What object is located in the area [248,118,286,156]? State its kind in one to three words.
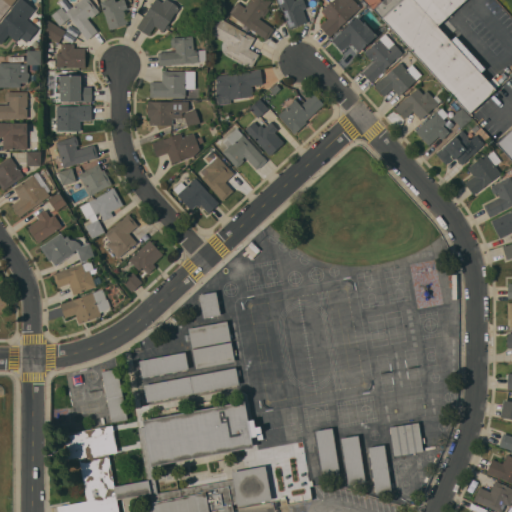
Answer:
house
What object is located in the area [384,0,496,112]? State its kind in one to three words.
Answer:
warehouse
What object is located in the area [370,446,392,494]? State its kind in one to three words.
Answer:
building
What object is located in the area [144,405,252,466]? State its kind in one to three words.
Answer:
building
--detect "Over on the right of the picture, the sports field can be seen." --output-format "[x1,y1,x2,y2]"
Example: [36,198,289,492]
[270,150,440,266]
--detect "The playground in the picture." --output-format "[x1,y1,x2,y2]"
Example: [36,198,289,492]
[410,260,444,310]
